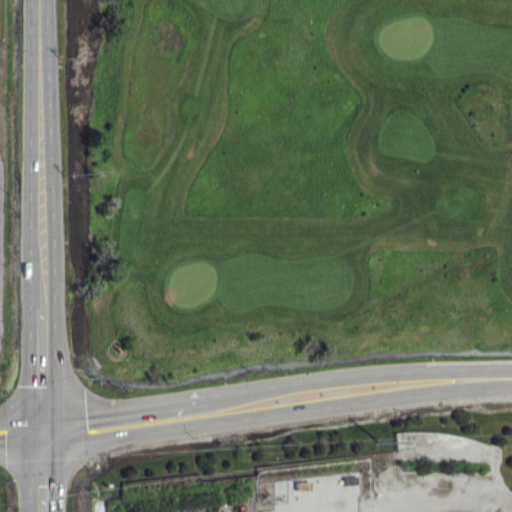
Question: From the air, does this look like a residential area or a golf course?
golf course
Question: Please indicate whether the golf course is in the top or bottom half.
top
